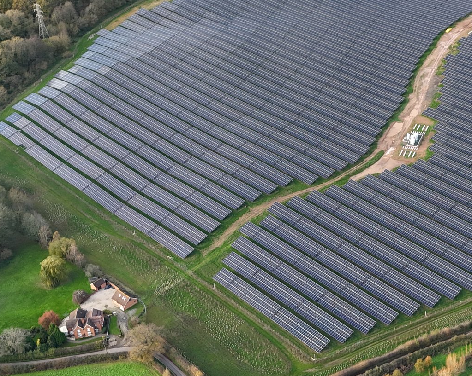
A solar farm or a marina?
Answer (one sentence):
What you see here is a solar farm.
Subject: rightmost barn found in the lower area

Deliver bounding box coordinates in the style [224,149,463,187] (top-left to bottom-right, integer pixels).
[106,286,136,311]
